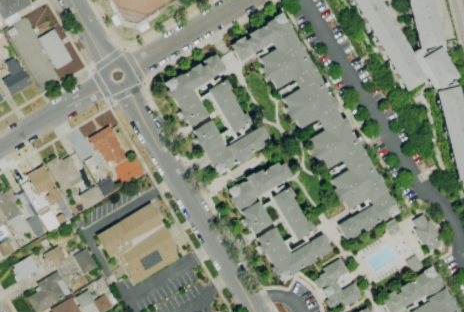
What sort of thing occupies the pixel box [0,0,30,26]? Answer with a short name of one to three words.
house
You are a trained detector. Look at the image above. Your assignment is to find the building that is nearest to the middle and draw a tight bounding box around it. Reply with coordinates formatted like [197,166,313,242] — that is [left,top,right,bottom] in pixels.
[194,121,270,173]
